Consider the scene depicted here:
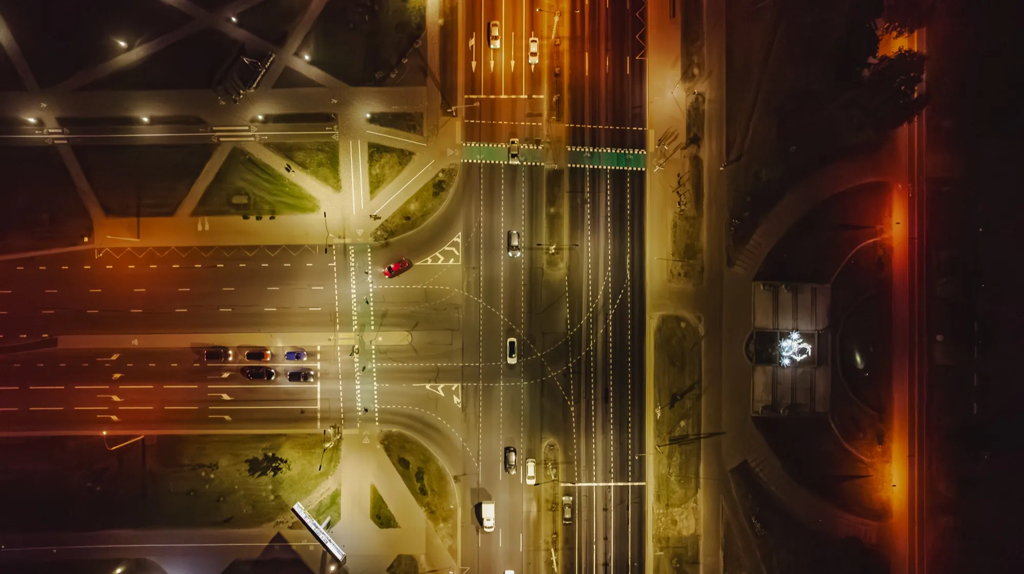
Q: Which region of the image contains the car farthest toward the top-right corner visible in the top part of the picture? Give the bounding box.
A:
[527,35,540,63]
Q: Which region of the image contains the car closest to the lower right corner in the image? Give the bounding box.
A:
[561,496,574,525]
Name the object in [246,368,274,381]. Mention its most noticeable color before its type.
black vehicle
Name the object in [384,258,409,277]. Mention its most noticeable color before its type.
red car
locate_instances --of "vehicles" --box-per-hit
[487,19,500,47]
[203,348,232,361]
[287,370,313,383]
[508,137,520,165]
[504,447,517,475]
[481,501,495,533]
[246,368,274,381]
[561,496,574,525]
[506,337,518,365]
[527,35,540,63]
[524,459,537,487]
[384,258,409,277]
[284,350,306,361]
[507,230,520,258]
[244,349,270,362]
